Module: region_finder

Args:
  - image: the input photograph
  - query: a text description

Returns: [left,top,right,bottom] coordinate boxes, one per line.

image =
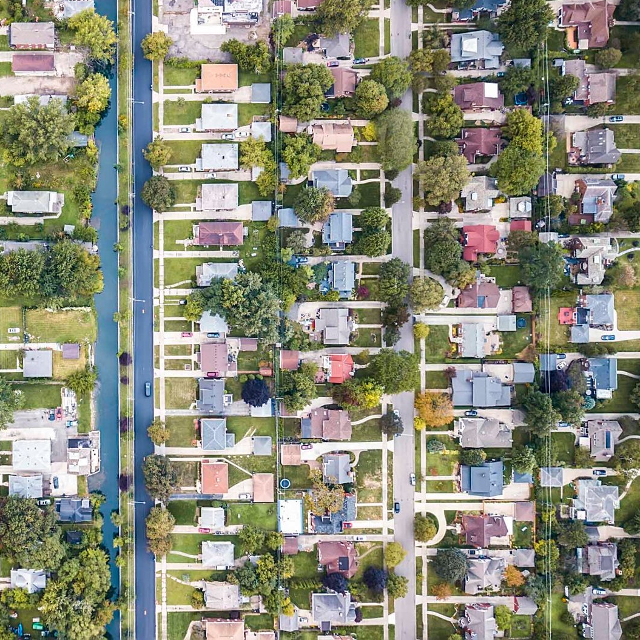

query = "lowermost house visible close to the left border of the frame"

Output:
[10,568,45,595]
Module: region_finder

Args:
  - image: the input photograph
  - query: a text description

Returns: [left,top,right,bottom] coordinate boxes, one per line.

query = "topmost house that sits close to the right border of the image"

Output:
[556,0,616,52]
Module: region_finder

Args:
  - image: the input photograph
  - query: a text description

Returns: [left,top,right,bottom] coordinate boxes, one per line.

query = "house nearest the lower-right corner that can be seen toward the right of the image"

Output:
[584,599,622,640]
